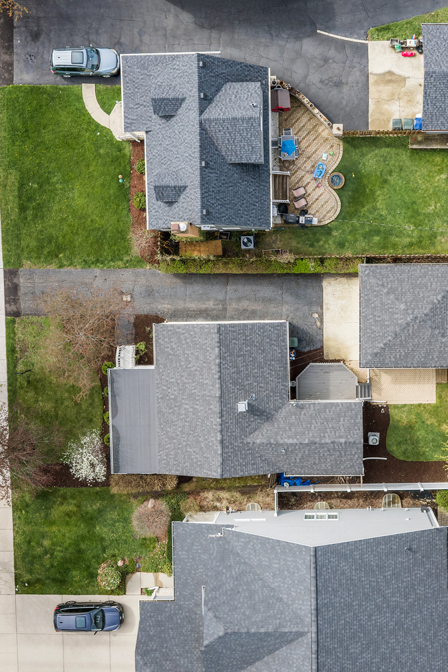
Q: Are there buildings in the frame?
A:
Yes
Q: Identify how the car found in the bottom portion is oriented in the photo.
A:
from side to side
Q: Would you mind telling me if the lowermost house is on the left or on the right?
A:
right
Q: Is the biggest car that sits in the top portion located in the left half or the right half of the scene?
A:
left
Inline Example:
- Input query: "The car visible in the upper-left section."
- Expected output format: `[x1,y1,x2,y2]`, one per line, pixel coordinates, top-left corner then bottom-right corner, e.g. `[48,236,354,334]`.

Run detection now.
[48,44,120,80]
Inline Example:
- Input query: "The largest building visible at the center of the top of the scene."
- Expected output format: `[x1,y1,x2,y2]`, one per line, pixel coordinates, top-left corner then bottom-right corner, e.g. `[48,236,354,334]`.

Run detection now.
[120,51,272,244]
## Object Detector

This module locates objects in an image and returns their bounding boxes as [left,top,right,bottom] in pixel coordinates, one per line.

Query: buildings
[421,23,448,136]
[136,507,448,672]
[120,51,272,244]
[109,320,364,479]
[359,263,448,368]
